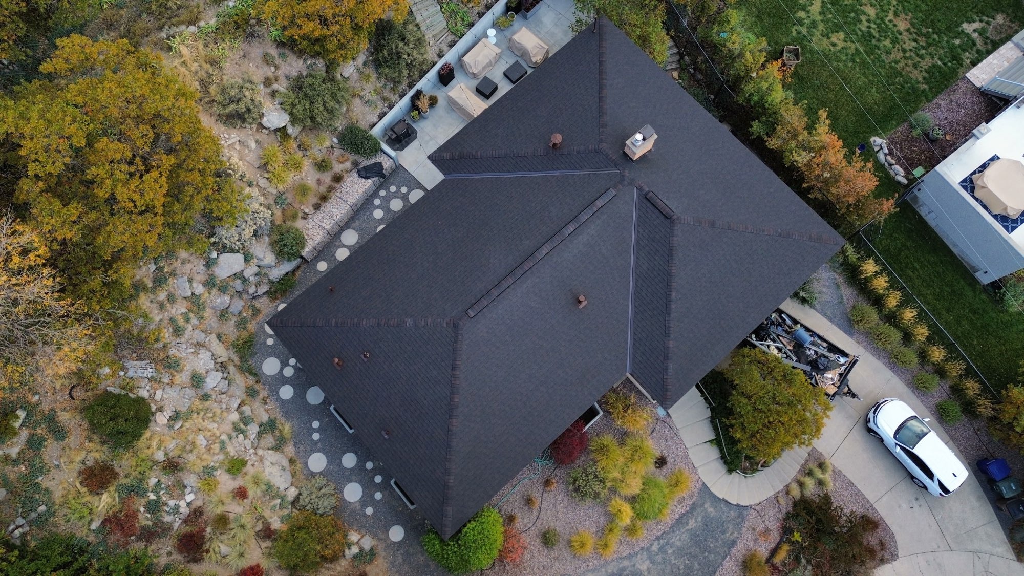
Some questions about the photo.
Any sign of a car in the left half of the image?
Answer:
No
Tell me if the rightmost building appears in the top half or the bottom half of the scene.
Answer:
top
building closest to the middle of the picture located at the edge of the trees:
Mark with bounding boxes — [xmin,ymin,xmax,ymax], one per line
[266,16,845,542]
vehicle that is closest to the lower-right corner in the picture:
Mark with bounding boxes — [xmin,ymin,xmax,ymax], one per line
[859,400,968,498]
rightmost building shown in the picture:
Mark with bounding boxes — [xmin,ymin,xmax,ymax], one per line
[899,97,1024,282]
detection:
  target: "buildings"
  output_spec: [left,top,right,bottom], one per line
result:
[899,97,1024,282]
[266,16,845,542]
